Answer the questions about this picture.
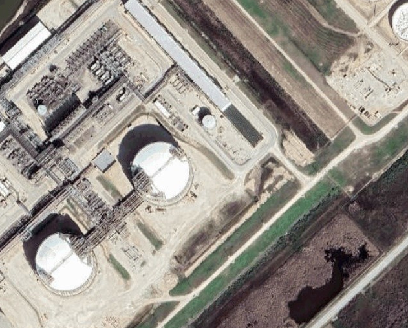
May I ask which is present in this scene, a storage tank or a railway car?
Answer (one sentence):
I can see a storage tank in this picture.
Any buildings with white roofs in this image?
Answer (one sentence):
Yes, the frame does contain a building with a white roof.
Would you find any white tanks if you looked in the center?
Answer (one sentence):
Yes, a white tank shows up in the center.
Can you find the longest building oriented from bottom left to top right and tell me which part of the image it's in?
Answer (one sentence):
The longest building oriented from bottom left to top right sits in the top left section of the image.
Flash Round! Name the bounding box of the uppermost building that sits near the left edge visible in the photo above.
[1,21,52,72]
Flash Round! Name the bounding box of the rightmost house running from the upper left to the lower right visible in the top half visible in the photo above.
[223,104,263,148]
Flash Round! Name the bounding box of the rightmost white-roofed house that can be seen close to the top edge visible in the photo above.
[124,0,228,110]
